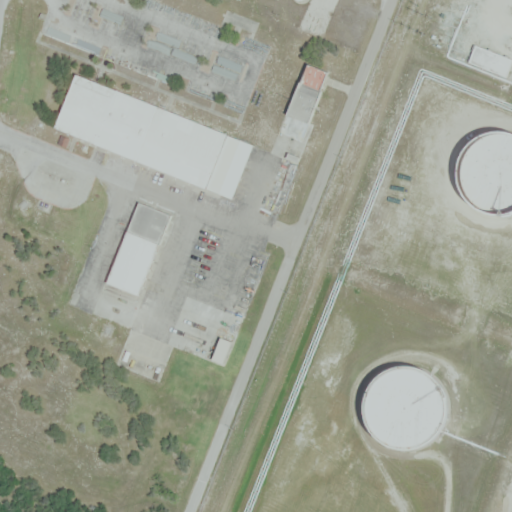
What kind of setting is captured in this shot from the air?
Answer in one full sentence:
What you see here is an industrial area.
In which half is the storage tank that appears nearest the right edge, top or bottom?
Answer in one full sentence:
It is in the top half that the storage tank that appears nearest the right edge appears.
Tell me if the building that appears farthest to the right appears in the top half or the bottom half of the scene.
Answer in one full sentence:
It is in the top half that the building that appears farthest to the right appears.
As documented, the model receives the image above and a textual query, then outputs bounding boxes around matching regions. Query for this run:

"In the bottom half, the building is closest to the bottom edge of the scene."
[212,338,233,366]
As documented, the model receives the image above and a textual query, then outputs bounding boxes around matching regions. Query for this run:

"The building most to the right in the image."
[469,46,512,78]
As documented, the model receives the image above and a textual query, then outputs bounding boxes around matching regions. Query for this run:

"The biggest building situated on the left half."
[54,75,254,200]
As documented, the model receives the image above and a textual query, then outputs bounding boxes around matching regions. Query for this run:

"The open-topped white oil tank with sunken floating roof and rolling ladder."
[454,130,512,218]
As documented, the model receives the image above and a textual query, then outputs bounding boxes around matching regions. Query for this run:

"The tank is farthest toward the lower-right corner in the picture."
[362,366,450,452]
